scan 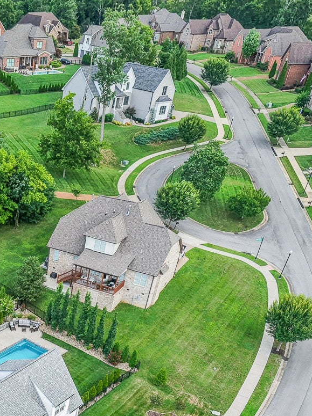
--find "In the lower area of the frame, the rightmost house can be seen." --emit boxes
[46,196,181,311]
